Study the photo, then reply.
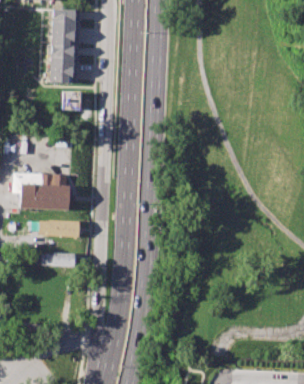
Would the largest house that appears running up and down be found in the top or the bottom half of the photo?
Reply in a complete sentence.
Seen from above, the largest house that appears running up and down lies in the top half of the view.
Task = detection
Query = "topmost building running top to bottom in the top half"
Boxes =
[50,8,76,82]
